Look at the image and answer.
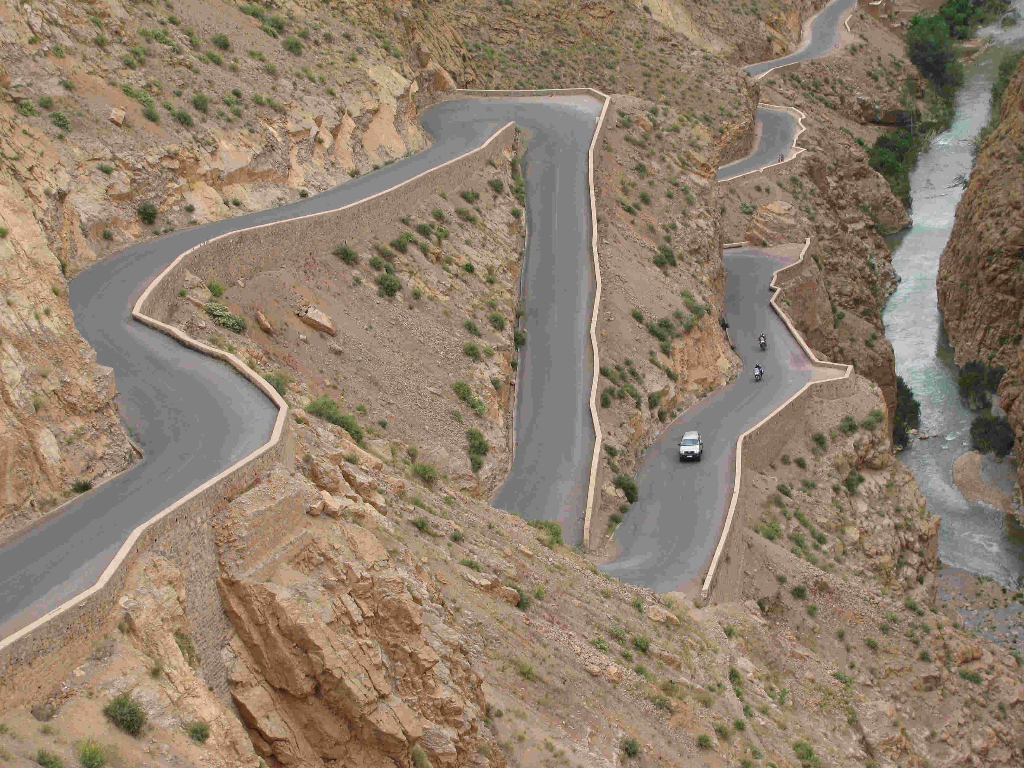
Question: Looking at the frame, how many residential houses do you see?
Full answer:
The picture shows no residential houses.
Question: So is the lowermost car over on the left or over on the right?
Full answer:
The lowermost car sits on the right side.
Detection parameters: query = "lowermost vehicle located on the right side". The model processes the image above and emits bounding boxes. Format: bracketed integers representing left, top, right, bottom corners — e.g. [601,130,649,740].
[677,426,703,460]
